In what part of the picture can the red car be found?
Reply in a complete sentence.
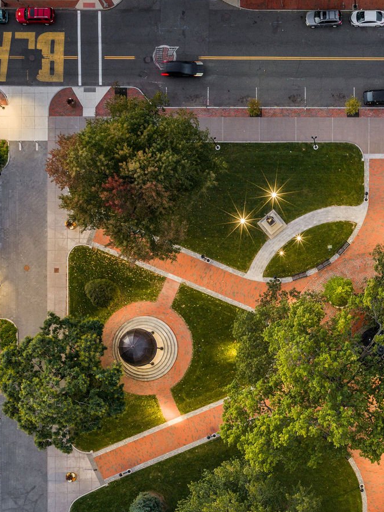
The red car is located in the top left region of the scene.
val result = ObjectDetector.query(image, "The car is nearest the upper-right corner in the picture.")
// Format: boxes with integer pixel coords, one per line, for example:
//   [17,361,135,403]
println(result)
[351,6,384,25]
